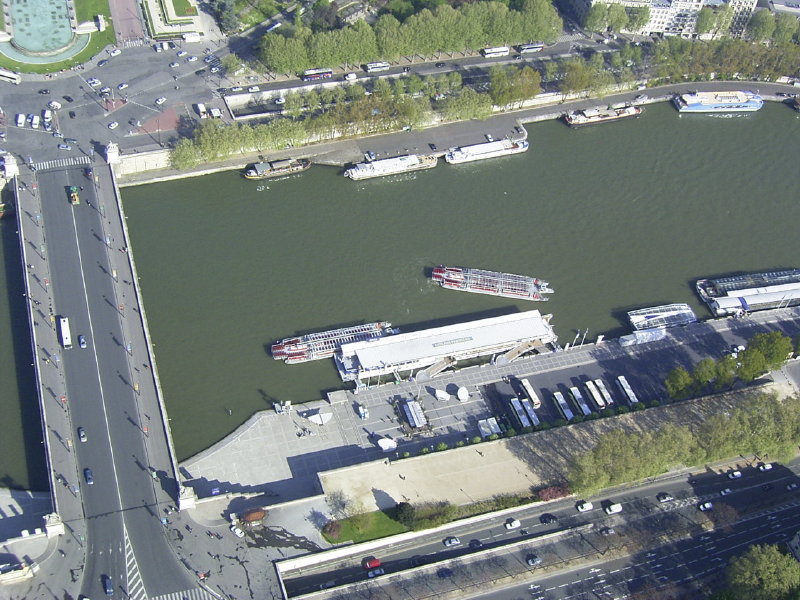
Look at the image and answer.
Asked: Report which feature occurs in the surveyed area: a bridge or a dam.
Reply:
bridge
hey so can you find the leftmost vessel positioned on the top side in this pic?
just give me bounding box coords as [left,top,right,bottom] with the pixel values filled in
[241,159,323,180]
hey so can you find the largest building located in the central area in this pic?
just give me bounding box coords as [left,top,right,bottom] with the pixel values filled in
[341,311,560,382]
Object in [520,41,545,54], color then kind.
white vehicle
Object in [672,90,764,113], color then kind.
white vessel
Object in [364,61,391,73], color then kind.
white vehicle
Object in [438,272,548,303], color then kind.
white boat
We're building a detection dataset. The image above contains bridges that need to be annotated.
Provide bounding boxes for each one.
[12,163,177,523]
